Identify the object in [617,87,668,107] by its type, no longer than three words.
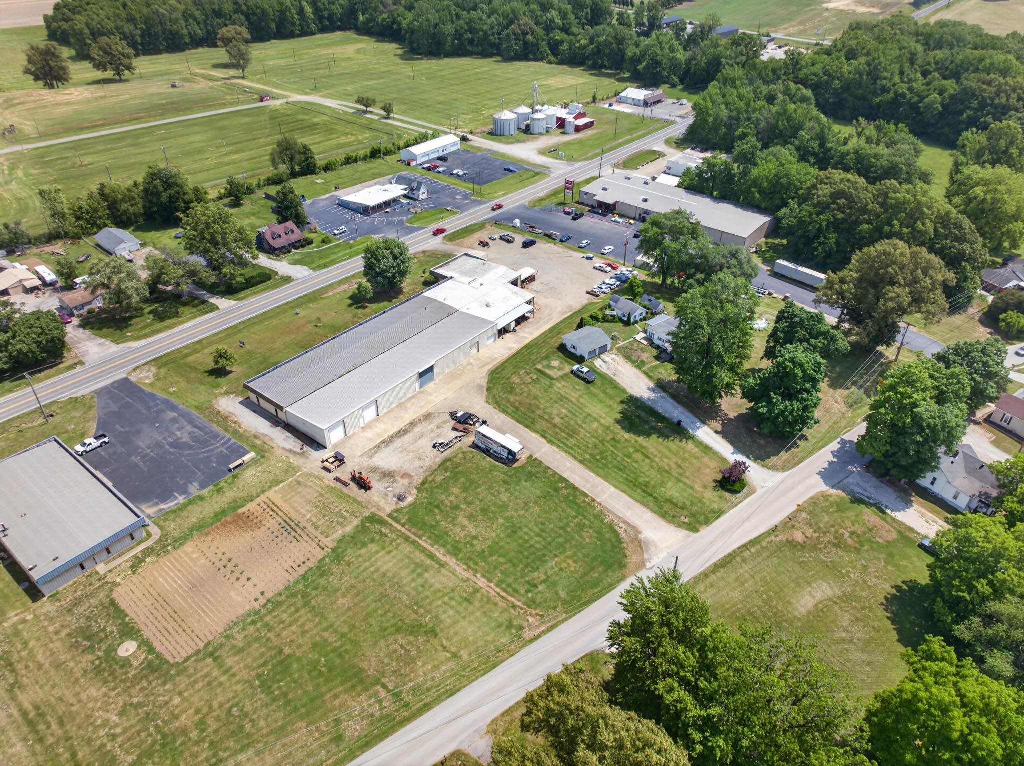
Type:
building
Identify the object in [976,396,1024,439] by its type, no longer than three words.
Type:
house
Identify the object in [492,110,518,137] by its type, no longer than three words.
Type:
silo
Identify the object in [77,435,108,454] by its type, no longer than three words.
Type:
vehicle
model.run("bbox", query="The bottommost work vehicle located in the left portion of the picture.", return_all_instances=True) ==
[355,471,373,489]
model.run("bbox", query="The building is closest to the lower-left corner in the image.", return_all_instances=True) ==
[0,430,146,595]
